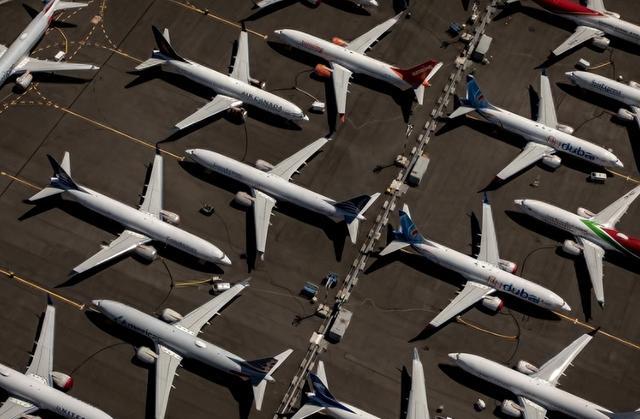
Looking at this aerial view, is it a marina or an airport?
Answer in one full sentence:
This image shows an airport.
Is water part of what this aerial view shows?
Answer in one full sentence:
No, no water is visible.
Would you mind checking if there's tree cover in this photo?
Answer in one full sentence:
No, there's no tree cover in this view.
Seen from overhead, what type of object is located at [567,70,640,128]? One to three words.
airplane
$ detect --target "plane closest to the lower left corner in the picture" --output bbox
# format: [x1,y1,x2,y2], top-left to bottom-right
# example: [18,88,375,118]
[0,293,119,419]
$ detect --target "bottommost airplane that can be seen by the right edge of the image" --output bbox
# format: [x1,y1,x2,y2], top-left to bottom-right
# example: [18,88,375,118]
[448,327,640,419]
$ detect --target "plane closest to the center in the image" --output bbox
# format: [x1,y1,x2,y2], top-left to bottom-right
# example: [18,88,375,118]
[186,130,381,261]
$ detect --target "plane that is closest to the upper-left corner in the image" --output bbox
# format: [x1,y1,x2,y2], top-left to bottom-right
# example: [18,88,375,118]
[0,0,99,89]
